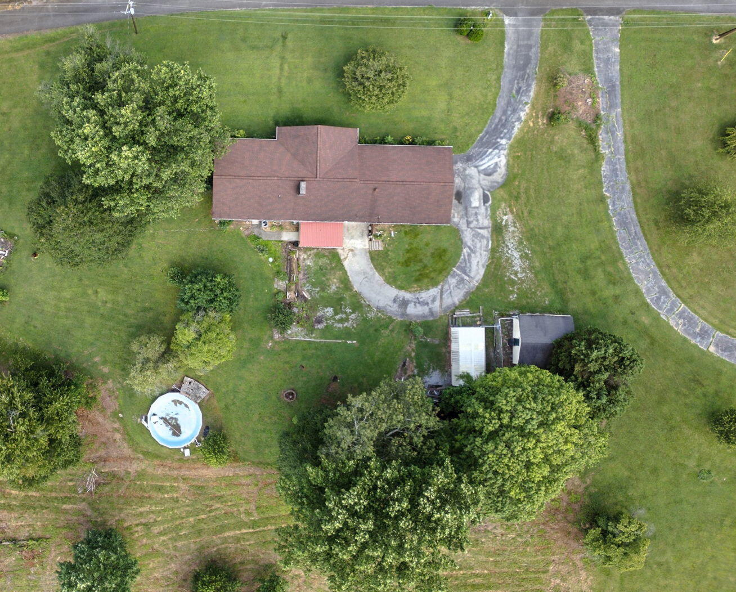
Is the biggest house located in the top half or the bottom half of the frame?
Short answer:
top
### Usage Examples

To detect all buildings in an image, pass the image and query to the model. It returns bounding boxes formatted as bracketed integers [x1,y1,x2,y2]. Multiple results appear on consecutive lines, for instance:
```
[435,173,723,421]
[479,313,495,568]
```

[510,314,574,366]
[445,326,486,386]
[212,126,454,248]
